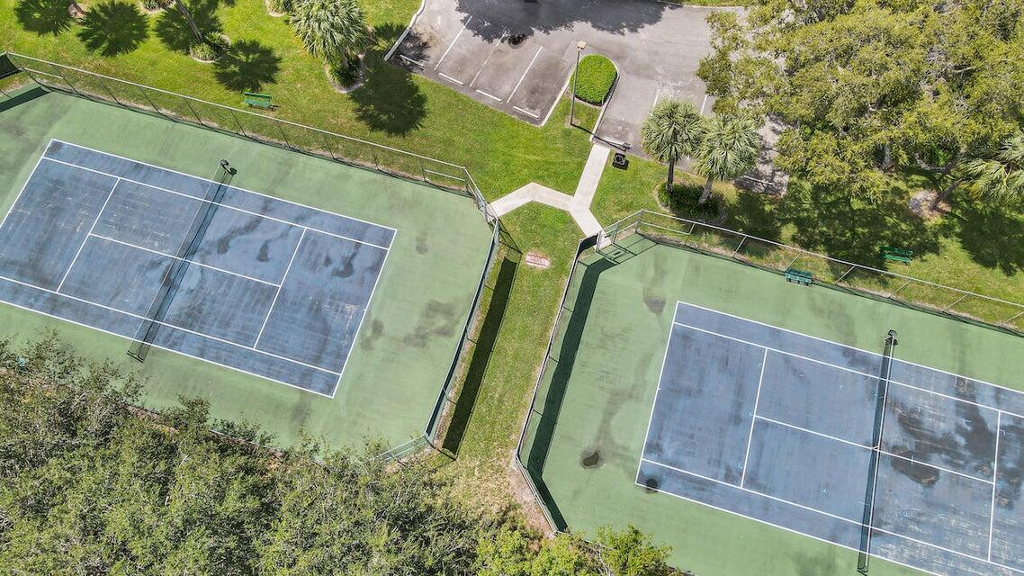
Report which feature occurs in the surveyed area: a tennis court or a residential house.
tennis court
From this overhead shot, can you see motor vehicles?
No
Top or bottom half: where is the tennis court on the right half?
bottom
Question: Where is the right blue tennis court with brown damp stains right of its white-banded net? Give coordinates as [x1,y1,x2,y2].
[518,234,1024,576]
